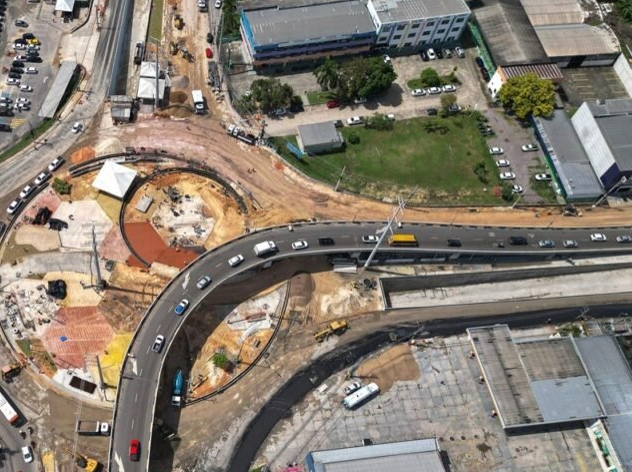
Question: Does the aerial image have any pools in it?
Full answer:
No, there is no pool in the image.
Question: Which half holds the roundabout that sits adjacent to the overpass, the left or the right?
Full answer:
You can find the roundabout that sits adjacent to the overpass on the left side of the picture.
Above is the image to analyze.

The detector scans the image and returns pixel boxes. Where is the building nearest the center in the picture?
[331,265,356,278]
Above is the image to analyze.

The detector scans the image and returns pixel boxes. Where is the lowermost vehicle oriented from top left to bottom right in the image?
[74,445,99,472]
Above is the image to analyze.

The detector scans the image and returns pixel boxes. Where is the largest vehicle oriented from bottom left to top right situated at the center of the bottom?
[342,379,382,409]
